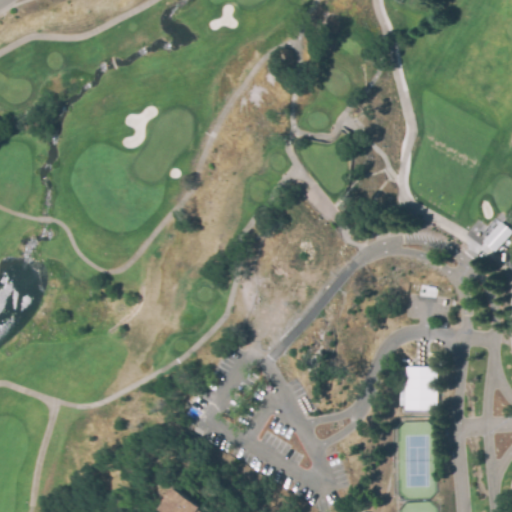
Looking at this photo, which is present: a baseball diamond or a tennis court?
tennis court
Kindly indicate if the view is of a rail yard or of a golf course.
golf course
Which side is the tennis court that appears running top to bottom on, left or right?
right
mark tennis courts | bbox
[400,502,438,512]
[400,422,438,499]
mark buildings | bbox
[154,488,198,512]
[400,366,438,412]
[480,219,512,252]
[421,284,439,299]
